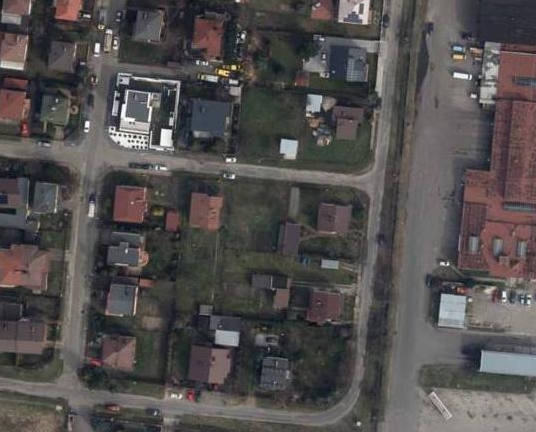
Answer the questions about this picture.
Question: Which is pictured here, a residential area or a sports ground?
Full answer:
This looks like a residential area.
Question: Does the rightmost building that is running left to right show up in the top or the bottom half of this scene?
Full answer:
You can find the rightmost building that is running left to right in the bottom half.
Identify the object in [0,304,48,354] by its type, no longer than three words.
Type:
house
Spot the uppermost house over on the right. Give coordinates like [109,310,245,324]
[338,0,371,26]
